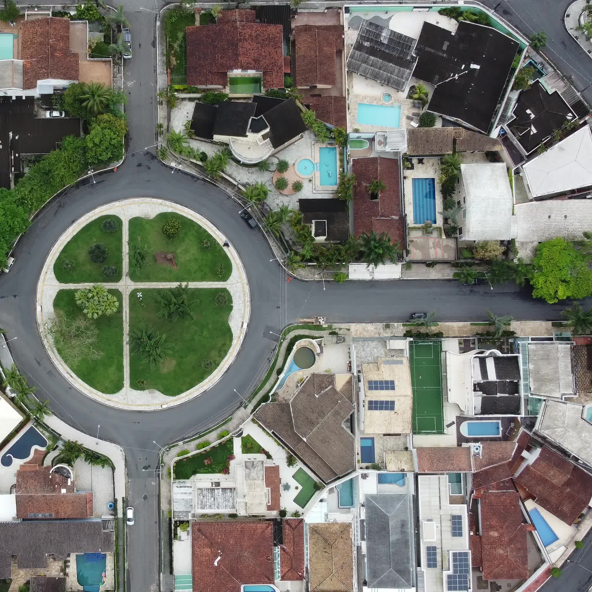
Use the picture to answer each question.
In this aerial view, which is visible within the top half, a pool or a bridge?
pool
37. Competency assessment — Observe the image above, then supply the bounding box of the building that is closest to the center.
[297,199,349,244]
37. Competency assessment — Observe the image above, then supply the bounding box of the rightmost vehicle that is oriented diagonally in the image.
[239,209,258,231]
